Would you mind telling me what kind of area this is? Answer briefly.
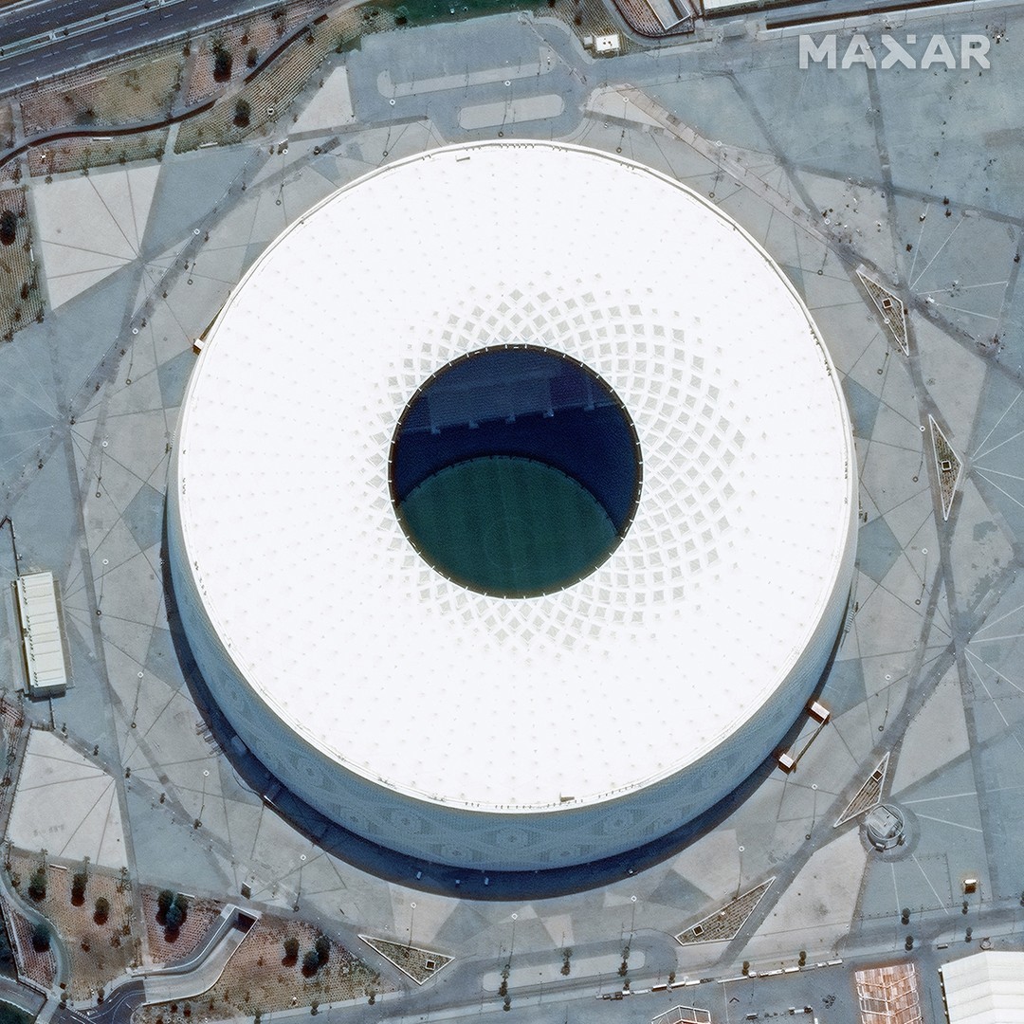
sports ground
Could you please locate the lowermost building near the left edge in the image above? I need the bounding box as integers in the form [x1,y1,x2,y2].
[17,571,66,696]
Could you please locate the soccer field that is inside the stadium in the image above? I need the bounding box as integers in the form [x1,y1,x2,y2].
[394,429,637,594]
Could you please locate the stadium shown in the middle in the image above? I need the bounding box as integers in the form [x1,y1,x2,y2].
[167,139,859,870]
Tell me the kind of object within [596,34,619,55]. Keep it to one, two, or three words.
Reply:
building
